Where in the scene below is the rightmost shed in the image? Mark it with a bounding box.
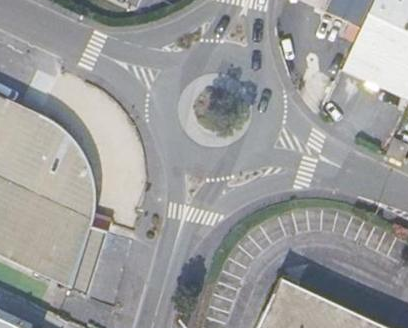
[386,136,408,168]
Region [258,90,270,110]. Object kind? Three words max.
vehicle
